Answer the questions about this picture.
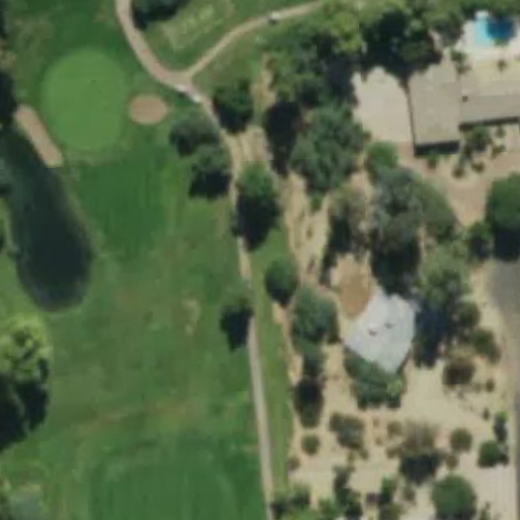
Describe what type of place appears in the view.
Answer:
golf course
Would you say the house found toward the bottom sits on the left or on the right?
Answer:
right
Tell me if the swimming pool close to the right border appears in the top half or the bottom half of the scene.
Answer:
top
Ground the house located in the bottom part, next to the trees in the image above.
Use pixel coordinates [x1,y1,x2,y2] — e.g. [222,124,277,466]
[343,286,417,372]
